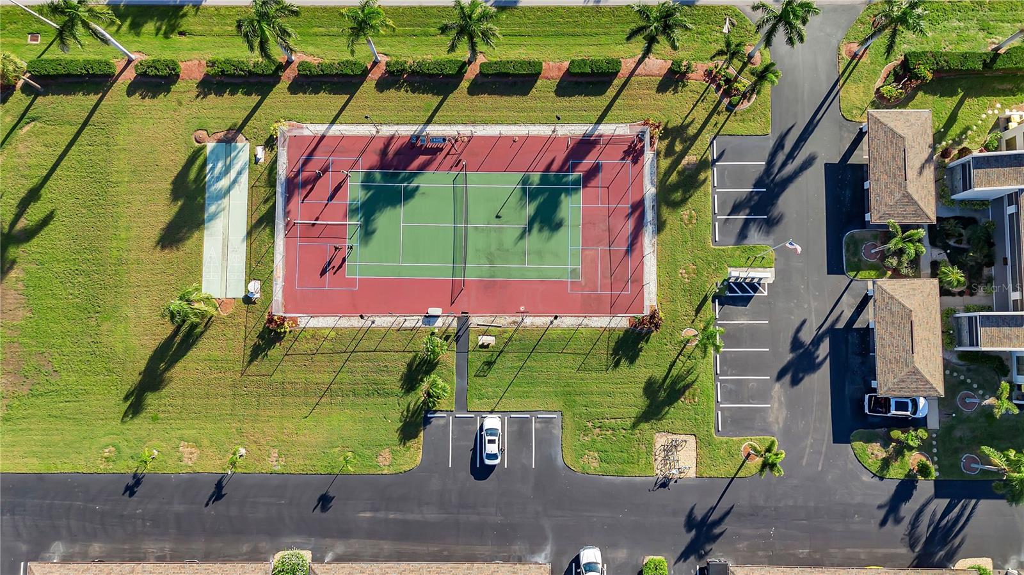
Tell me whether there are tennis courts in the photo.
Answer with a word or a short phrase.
Yes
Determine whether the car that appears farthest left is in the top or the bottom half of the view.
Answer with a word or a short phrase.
bottom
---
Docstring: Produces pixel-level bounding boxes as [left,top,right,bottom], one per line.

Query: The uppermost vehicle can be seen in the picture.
[862,397,929,422]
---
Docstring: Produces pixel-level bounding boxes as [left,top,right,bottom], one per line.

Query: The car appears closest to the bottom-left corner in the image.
[481,416,504,467]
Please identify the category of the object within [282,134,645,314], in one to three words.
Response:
tennis court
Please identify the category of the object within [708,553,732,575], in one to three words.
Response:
vehicle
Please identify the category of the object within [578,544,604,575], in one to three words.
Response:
truck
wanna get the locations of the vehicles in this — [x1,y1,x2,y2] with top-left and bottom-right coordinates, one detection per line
[481,416,504,467]
[708,553,732,575]
[862,397,929,422]
[578,544,604,575]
